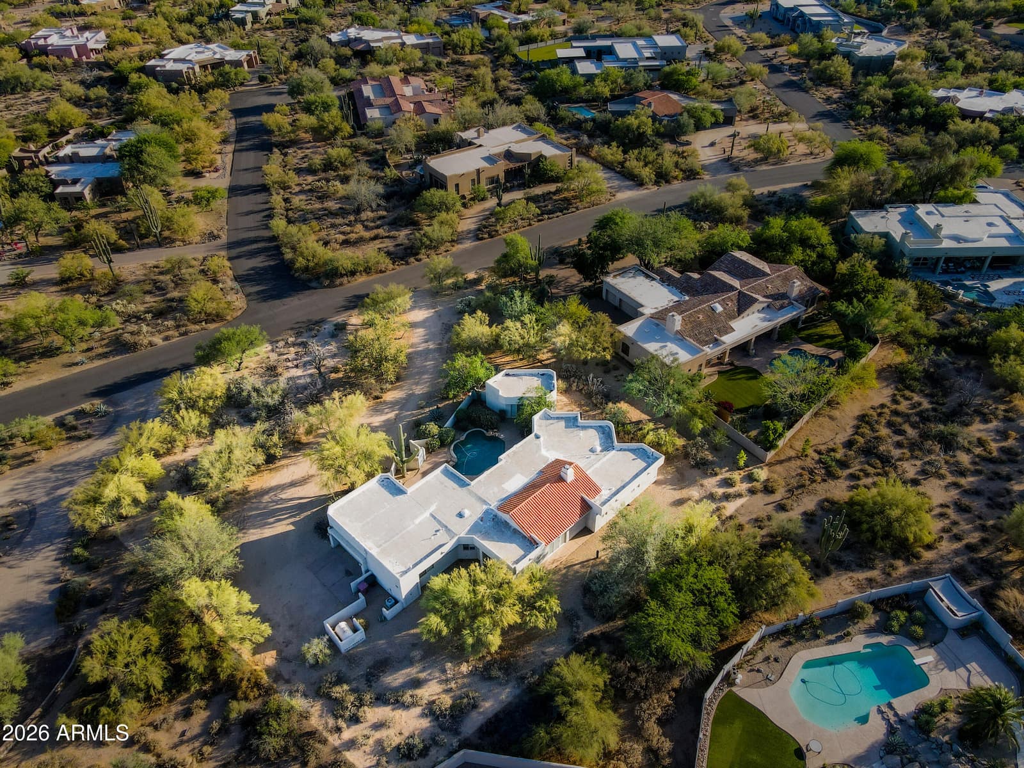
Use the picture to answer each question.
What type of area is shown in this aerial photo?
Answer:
residential area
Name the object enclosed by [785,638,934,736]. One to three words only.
swimming pool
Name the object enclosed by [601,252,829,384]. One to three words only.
house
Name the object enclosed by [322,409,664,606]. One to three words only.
house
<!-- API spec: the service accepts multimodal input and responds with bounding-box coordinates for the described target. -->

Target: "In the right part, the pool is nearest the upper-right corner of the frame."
[933,278,999,308]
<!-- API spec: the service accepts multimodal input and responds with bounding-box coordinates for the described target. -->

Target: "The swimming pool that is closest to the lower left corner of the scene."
[448,427,509,478]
